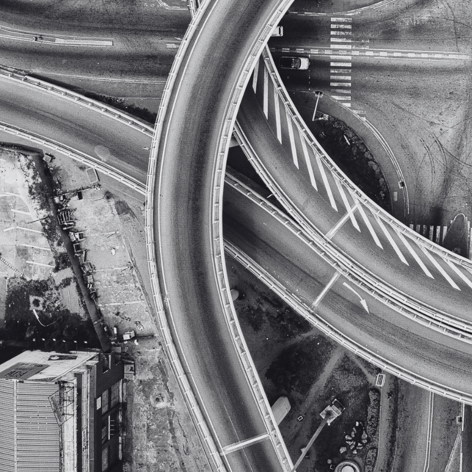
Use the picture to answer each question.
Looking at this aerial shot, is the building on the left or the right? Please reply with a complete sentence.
The building appears in the left half of the scene.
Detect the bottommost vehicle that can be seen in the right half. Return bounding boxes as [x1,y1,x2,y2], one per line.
[279,55,310,71]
